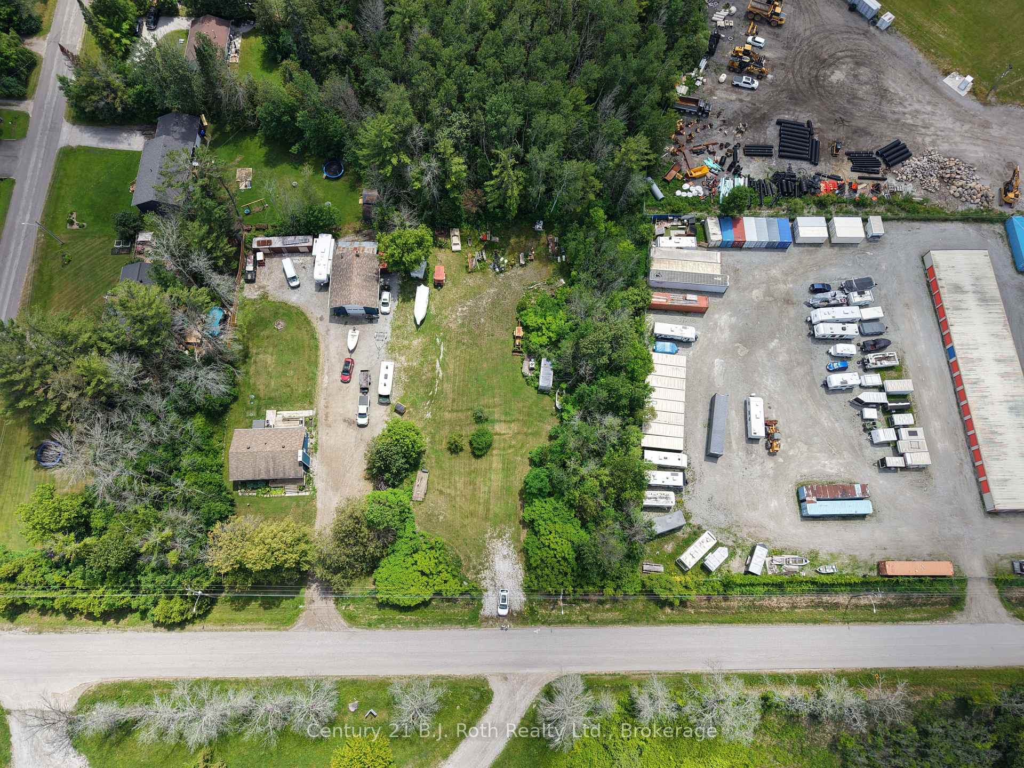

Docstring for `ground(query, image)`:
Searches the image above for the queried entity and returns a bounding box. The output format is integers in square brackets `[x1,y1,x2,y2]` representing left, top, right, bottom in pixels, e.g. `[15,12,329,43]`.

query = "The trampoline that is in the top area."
[324,161,342,178]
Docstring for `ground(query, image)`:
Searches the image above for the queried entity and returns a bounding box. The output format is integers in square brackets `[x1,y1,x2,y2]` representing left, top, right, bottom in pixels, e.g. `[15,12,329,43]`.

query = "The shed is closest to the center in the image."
[539,359,554,390]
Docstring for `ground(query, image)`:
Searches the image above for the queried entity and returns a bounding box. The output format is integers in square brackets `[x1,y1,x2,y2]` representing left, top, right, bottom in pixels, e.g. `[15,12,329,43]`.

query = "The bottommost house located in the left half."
[229,427,316,496]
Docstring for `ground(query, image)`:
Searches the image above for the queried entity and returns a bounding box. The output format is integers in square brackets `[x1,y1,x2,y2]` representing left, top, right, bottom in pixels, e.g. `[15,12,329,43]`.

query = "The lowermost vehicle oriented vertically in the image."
[497,589,509,617]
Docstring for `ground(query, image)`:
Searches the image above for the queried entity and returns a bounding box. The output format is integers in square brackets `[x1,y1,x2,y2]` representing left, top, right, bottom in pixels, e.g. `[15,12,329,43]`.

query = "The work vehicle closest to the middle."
[512,321,524,355]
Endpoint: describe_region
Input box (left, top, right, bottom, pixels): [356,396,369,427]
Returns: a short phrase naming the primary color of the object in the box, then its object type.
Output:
white vehicle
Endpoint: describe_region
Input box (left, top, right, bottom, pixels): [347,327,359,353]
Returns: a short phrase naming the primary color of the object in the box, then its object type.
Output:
white boat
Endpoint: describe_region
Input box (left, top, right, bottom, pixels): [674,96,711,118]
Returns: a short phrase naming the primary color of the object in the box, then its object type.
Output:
black truck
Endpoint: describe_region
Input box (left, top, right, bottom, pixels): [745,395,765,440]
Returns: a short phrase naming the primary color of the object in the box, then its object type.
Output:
white trailer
